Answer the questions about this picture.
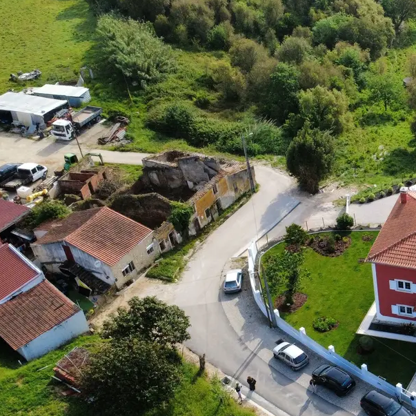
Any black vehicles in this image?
Yes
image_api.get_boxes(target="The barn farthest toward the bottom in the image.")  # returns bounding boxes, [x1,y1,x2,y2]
[0,277,88,366]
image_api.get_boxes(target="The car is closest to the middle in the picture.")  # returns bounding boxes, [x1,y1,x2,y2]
[220,267,244,299]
